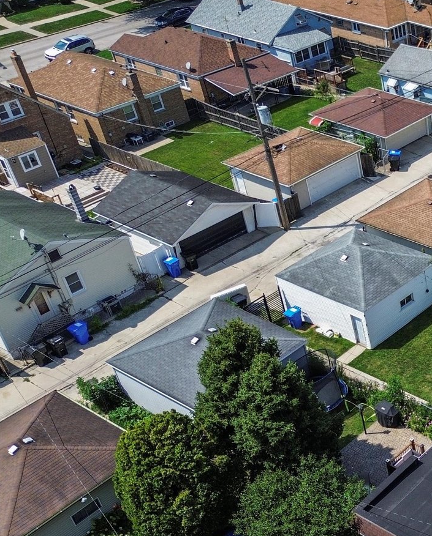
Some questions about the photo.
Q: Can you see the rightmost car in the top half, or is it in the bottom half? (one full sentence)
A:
Seen from above, the rightmost car lies in the top half of the view.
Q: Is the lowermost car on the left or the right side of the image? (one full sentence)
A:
The lowermost car sits on the left side.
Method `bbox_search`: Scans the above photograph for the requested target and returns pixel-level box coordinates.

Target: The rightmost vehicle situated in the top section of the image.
[157,0,198,26]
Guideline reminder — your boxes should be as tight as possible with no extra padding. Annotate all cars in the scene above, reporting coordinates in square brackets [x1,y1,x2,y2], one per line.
[46,33,100,62]
[157,0,198,26]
